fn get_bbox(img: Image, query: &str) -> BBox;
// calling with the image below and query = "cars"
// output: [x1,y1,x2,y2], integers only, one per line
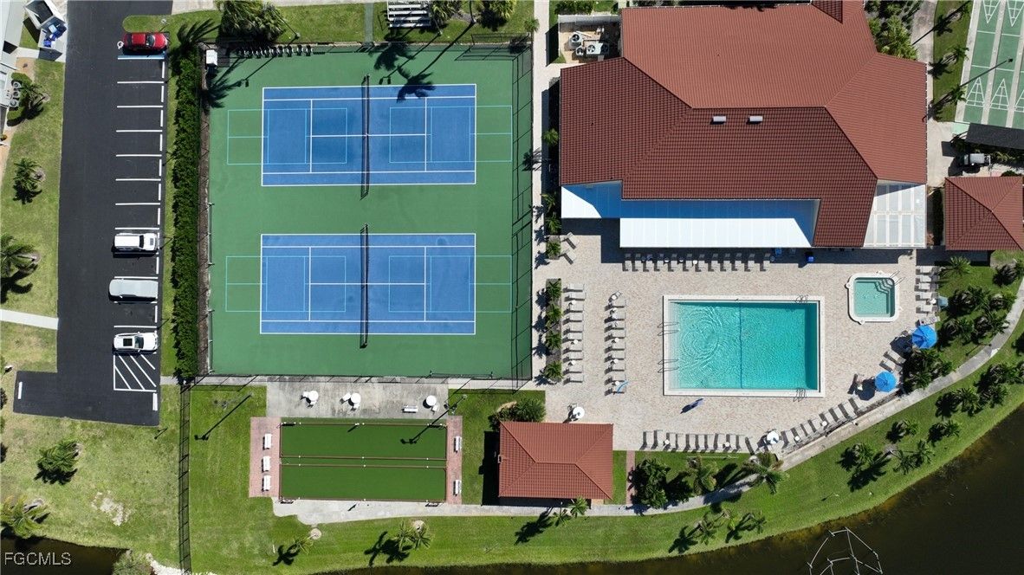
[112,332,160,353]
[112,232,159,251]
[122,29,170,51]
[108,279,158,301]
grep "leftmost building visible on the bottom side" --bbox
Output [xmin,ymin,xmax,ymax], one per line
[498,420,614,501]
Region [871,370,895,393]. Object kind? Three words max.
umbrella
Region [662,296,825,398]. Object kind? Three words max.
swimming pool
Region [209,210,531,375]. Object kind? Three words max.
tennis court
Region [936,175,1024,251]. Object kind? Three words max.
building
